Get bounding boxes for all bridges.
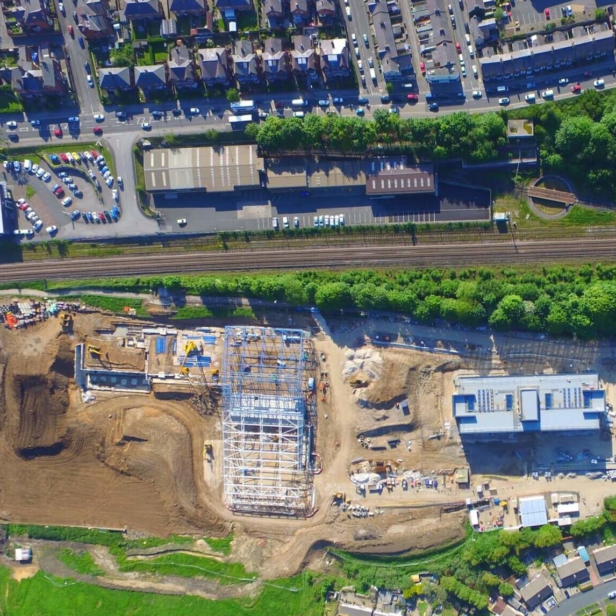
[528,186,575,206]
